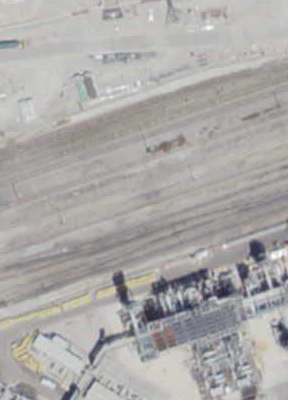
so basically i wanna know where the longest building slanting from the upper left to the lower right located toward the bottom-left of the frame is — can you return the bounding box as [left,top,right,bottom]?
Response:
[32,332,86,376]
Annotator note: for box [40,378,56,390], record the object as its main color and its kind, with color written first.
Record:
white vehicle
